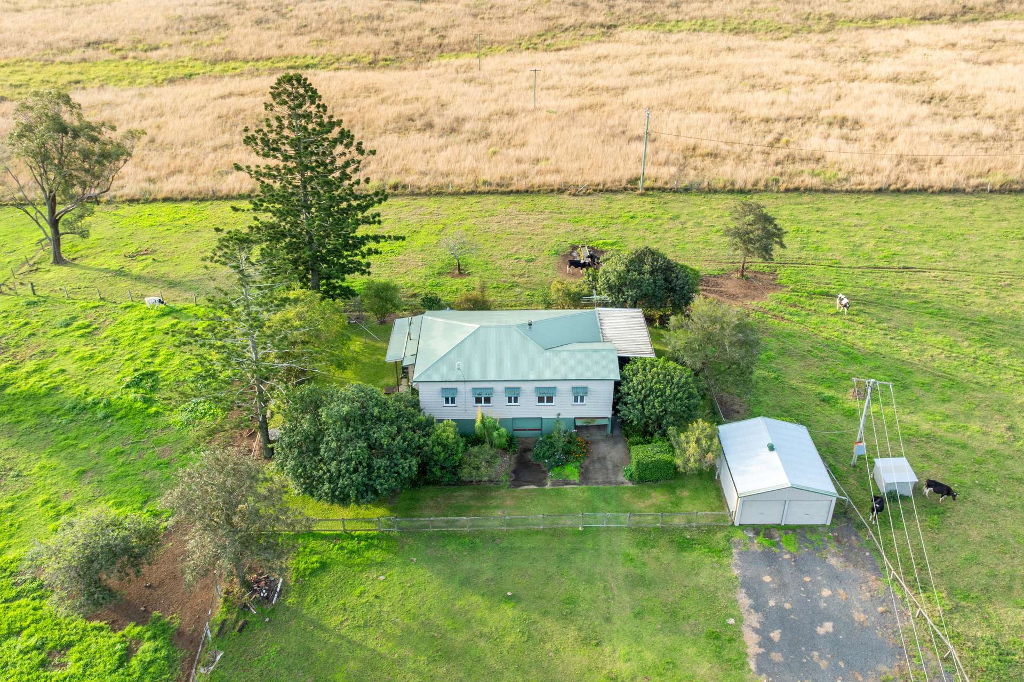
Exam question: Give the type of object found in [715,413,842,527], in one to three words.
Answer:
building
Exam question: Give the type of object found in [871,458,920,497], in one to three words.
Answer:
shed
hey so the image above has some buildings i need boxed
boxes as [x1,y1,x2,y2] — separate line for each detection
[715,413,842,527]
[871,458,920,497]
[384,286,656,437]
